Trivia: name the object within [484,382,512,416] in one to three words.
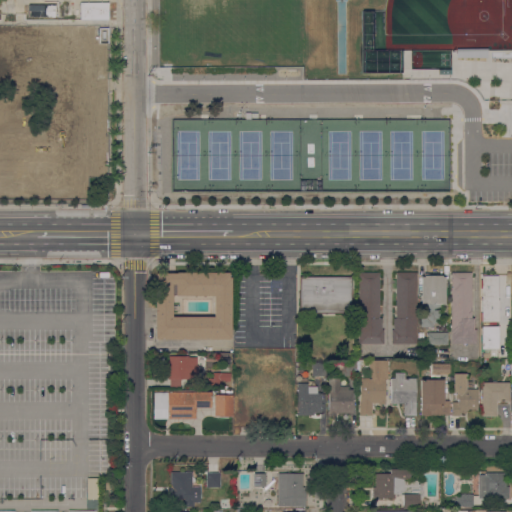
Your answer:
house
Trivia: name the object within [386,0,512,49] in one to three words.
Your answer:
baseball field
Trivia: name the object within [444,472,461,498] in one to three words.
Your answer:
swimming pool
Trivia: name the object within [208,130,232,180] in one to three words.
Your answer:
tennis court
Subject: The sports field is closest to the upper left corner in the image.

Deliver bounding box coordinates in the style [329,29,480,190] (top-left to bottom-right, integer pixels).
[160,0,304,66]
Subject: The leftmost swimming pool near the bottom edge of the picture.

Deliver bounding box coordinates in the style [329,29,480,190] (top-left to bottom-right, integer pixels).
[238,472,254,491]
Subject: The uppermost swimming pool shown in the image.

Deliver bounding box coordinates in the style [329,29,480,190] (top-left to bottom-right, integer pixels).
[184,299,213,314]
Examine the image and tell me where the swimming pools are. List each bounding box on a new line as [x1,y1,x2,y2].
[238,472,254,491]
[444,472,461,498]
[184,299,213,314]
[422,472,440,500]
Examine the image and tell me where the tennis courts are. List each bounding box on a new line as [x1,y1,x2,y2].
[328,130,352,180]
[359,130,382,180]
[390,130,413,180]
[270,130,293,180]
[240,130,262,180]
[178,130,200,180]
[422,130,444,180]
[208,130,232,180]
